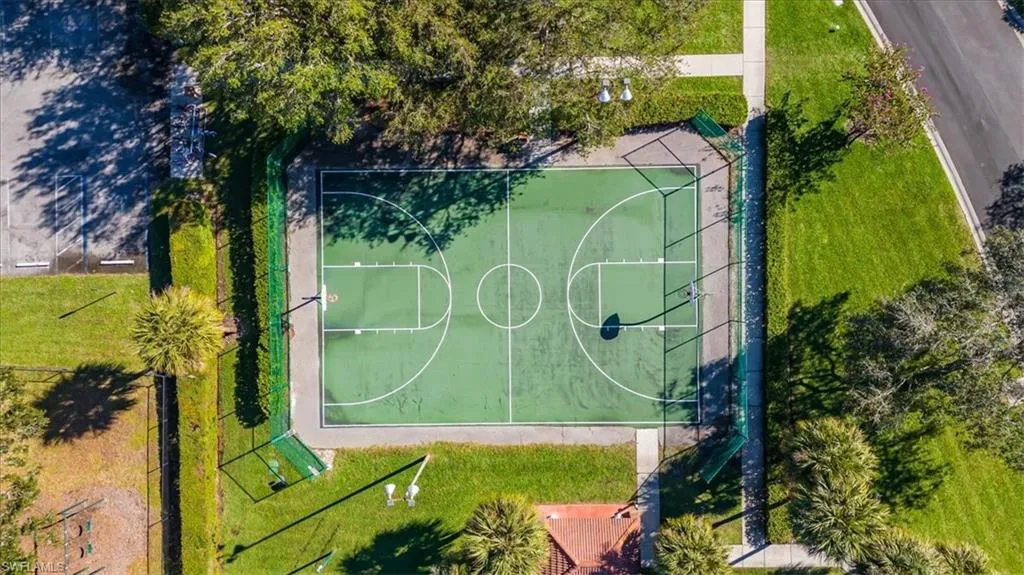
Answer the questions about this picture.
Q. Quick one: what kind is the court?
basketball court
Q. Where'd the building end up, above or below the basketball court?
below it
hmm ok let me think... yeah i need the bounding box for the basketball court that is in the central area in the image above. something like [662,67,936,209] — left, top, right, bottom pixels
[289,129,730,449]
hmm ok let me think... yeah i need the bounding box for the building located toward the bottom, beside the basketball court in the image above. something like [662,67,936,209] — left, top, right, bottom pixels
[535,502,644,575]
